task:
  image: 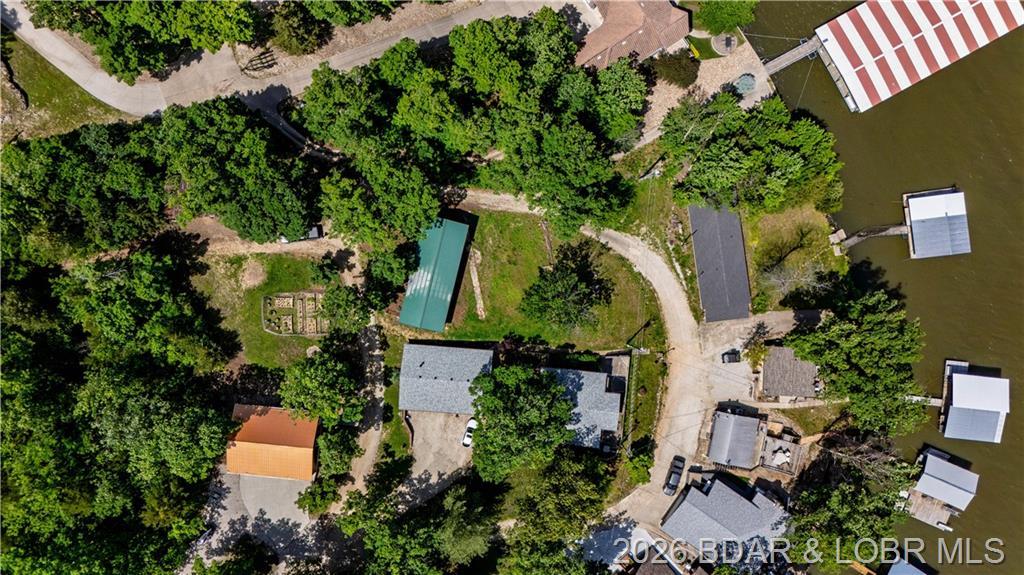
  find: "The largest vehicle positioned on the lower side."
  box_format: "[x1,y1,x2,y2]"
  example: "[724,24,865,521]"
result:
[664,455,688,497]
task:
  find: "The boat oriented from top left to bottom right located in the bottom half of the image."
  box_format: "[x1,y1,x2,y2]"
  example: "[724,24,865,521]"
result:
[944,506,963,518]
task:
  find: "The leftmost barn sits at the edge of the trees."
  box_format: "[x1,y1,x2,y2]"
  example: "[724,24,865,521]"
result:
[225,404,322,480]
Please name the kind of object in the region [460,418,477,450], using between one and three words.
car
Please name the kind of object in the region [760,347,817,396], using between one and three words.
house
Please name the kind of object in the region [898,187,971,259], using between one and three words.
pier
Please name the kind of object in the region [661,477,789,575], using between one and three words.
house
